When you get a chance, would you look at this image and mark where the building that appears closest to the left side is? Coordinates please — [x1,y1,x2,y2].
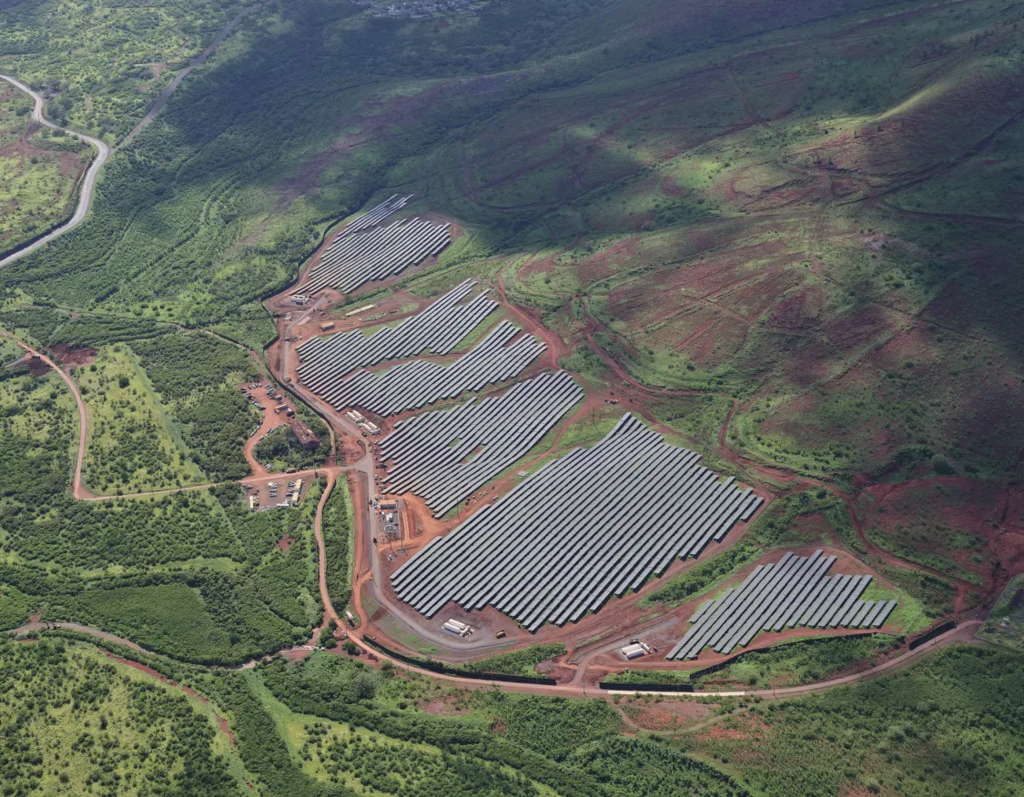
[286,413,321,445]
